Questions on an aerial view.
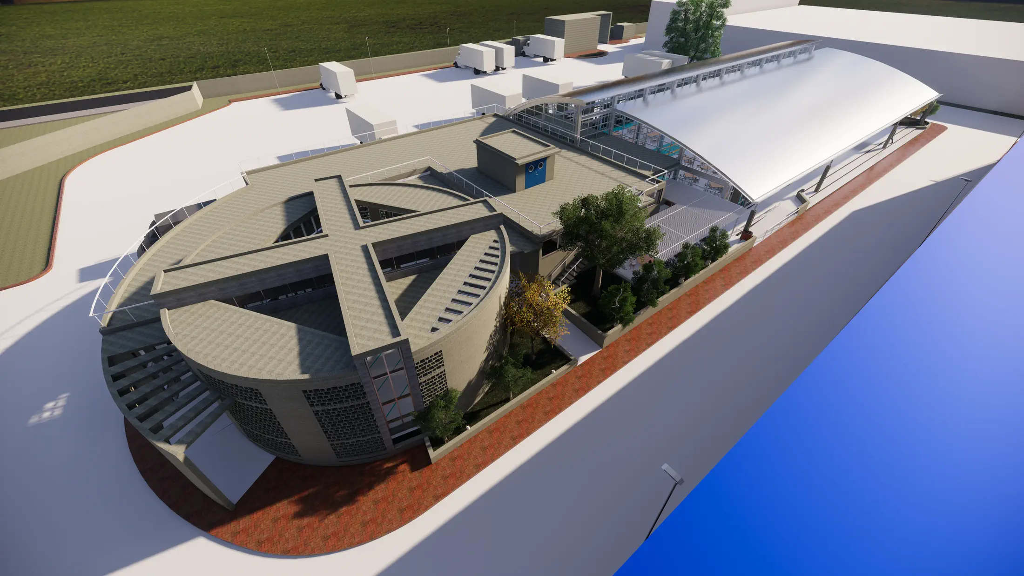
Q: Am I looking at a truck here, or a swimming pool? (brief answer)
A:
truck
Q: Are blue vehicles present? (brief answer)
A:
No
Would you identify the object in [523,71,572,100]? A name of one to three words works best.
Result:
truck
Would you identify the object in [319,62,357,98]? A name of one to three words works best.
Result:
truck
